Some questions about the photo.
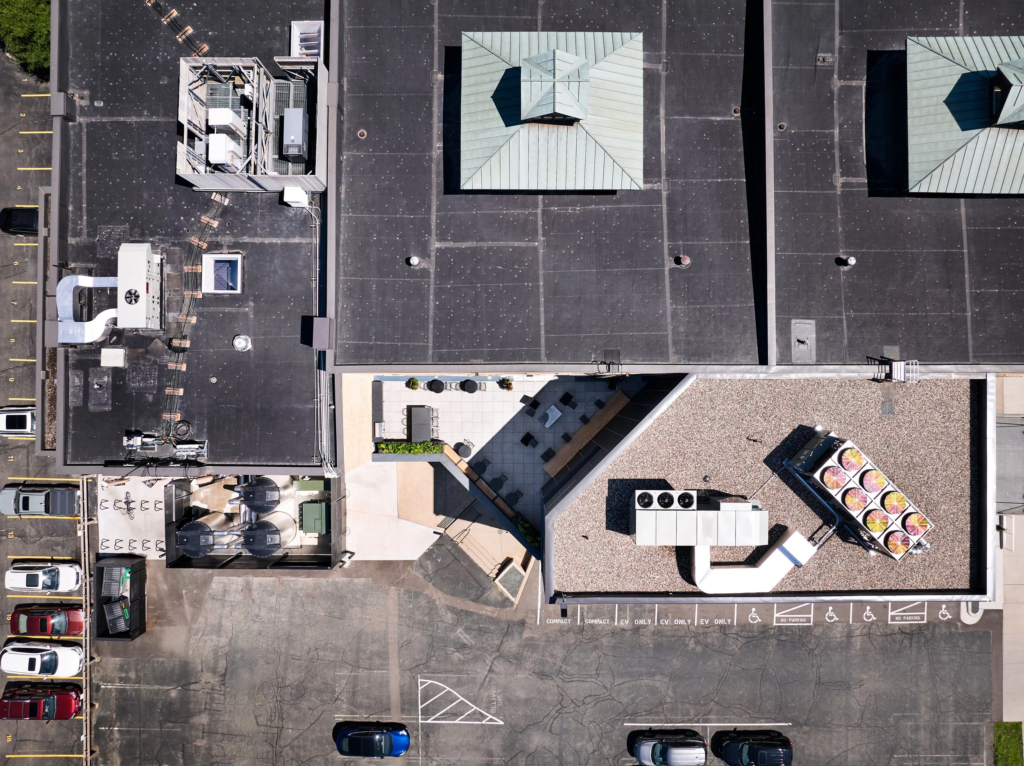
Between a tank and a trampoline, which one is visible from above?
tank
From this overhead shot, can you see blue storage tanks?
No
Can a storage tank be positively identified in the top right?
No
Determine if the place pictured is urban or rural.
urban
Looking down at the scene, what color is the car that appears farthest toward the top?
black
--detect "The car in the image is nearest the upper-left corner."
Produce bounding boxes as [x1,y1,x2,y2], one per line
[0,203,38,238]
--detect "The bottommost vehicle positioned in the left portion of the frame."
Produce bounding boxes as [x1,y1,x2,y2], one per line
[337,720,413,762]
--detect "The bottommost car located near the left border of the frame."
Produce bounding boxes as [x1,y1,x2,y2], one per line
[0,688,83,729]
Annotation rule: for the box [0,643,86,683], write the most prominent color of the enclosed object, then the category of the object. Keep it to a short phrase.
white car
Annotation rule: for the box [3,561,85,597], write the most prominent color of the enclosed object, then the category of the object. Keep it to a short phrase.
white car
